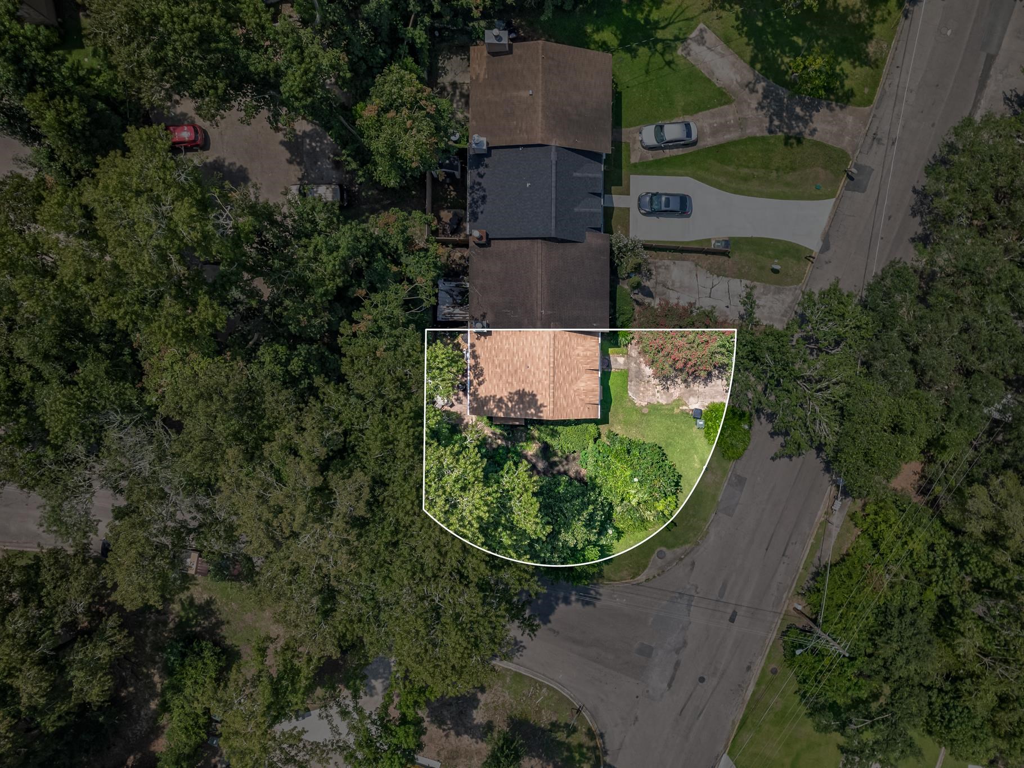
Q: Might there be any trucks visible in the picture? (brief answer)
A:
No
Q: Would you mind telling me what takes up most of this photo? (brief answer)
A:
trees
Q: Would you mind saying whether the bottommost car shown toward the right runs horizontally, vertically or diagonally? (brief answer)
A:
horizontally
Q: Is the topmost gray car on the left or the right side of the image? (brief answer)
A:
right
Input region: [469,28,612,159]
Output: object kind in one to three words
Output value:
house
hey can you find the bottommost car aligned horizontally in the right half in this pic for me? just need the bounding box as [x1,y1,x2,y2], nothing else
[638,189,694,217]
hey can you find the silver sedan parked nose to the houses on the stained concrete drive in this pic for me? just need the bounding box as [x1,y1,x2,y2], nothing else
[639,120,699,150]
